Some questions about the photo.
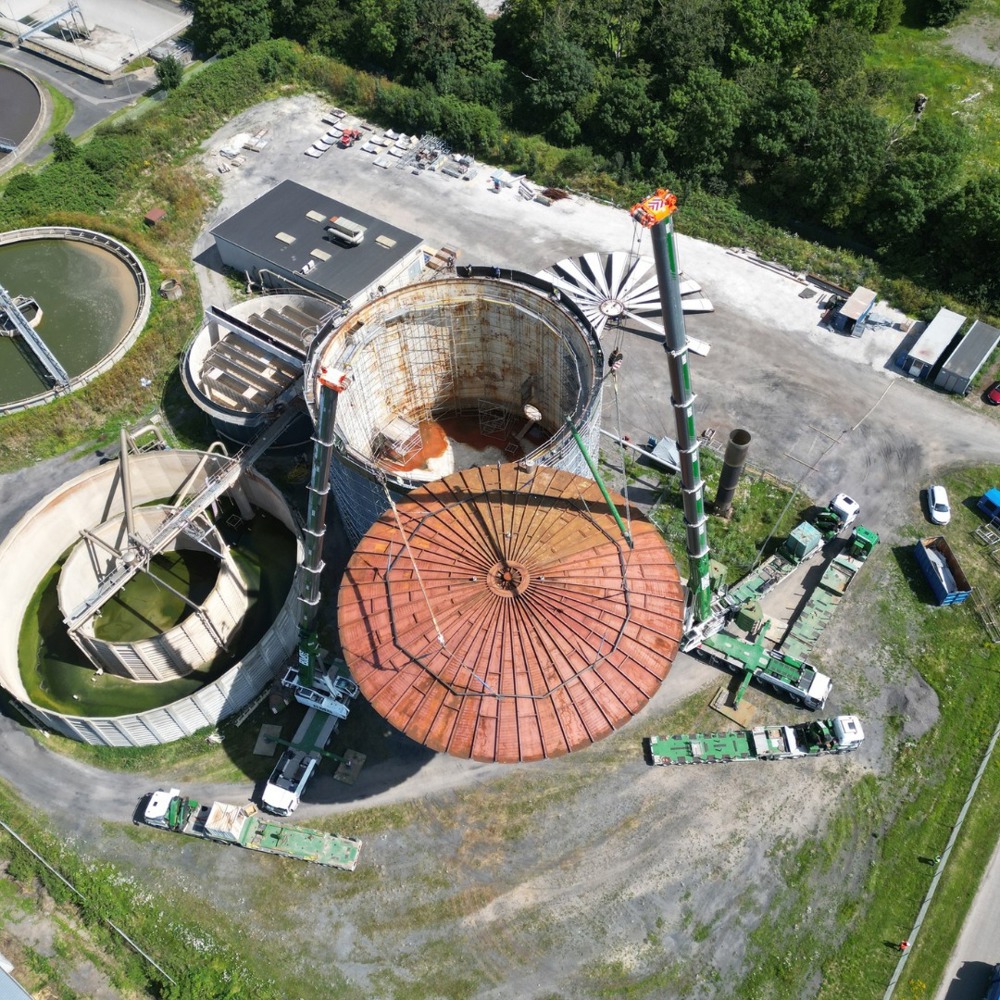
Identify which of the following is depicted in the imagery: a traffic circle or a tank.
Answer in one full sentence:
It is a tank that can be seen here.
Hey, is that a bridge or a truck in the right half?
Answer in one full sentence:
What appears in the right half is a truck.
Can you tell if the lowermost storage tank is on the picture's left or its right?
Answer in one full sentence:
The lowermost storage tank appears in the left half of the scene.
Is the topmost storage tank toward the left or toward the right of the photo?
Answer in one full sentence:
The topmost storage tank appears in the left half of the scene.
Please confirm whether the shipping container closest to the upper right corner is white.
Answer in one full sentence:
Yes, white is the color of the shipping container closest to the upper right corner.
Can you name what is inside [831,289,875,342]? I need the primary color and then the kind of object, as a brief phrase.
white shipping container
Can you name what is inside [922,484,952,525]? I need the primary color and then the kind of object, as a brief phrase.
white car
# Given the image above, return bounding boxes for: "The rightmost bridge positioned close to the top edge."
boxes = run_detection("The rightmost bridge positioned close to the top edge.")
[19,0,99,44]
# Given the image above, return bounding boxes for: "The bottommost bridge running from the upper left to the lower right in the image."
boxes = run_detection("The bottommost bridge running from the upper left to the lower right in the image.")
[0,298,76,396]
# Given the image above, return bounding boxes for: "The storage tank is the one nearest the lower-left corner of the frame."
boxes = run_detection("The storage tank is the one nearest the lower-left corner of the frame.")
[0,425,311,748]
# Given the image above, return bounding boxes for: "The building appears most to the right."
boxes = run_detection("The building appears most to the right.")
[938,319,1000,394]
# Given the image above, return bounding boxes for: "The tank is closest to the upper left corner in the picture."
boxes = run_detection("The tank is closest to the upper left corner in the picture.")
[0,62,59,189]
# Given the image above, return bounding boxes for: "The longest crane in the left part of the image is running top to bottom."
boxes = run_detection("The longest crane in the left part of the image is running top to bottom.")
[262,360,381,816]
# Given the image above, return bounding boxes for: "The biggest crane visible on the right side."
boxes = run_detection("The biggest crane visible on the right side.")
[612,188,822,715]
